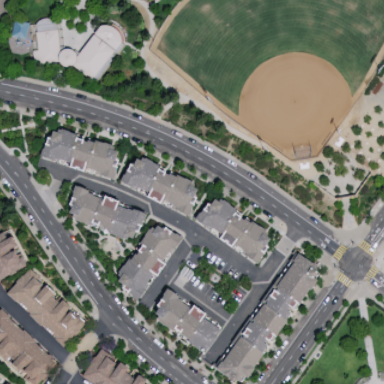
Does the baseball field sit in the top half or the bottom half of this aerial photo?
top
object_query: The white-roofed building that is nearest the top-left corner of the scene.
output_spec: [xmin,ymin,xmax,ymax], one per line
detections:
[34,18,126,78]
